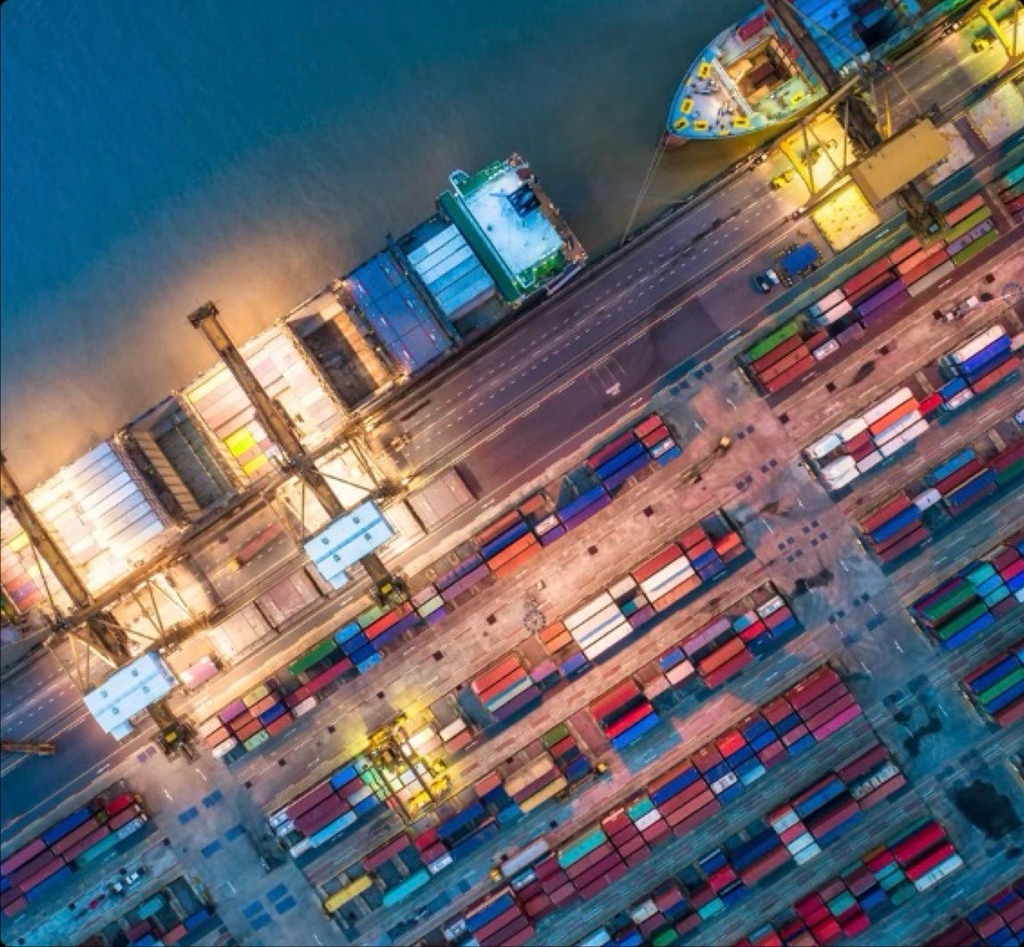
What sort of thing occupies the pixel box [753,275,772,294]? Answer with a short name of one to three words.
car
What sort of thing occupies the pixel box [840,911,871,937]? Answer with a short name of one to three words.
shipping container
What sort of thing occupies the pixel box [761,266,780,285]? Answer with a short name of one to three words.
car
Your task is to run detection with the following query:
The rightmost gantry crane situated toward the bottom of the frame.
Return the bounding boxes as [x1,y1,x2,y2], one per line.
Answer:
[357,697,463,830]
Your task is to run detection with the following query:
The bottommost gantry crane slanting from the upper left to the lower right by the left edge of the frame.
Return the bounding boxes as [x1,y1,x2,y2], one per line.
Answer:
[0,461,223,765]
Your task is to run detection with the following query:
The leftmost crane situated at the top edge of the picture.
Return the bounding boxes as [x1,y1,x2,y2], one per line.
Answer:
[749,0,961,247]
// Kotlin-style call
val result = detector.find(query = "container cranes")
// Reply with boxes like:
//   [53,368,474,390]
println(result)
[0,461,223,765]
[357,697,463,830]
[749,0,961,247]
[944,0,1024,89]
[179,299,414,620]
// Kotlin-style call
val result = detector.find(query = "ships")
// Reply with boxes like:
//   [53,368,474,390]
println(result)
[0,161,584,663]
[664,0,976,150]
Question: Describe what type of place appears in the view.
port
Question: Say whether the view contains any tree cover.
No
